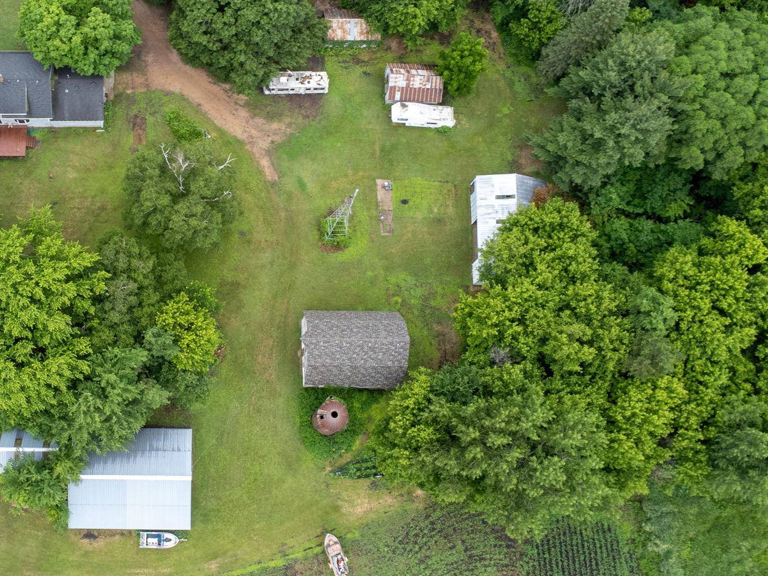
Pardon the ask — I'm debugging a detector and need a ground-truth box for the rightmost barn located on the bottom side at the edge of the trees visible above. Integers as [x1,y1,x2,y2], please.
[300,311,408,388]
